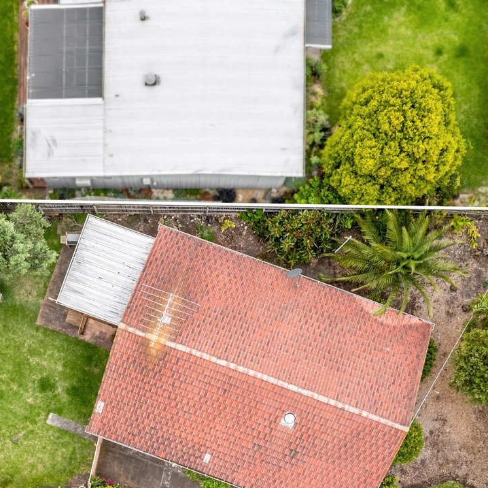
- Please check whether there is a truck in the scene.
No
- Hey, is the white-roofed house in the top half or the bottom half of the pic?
top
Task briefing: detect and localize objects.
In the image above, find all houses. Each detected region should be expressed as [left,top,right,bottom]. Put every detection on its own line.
[21,0,308,192]
[85,222,435,488]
